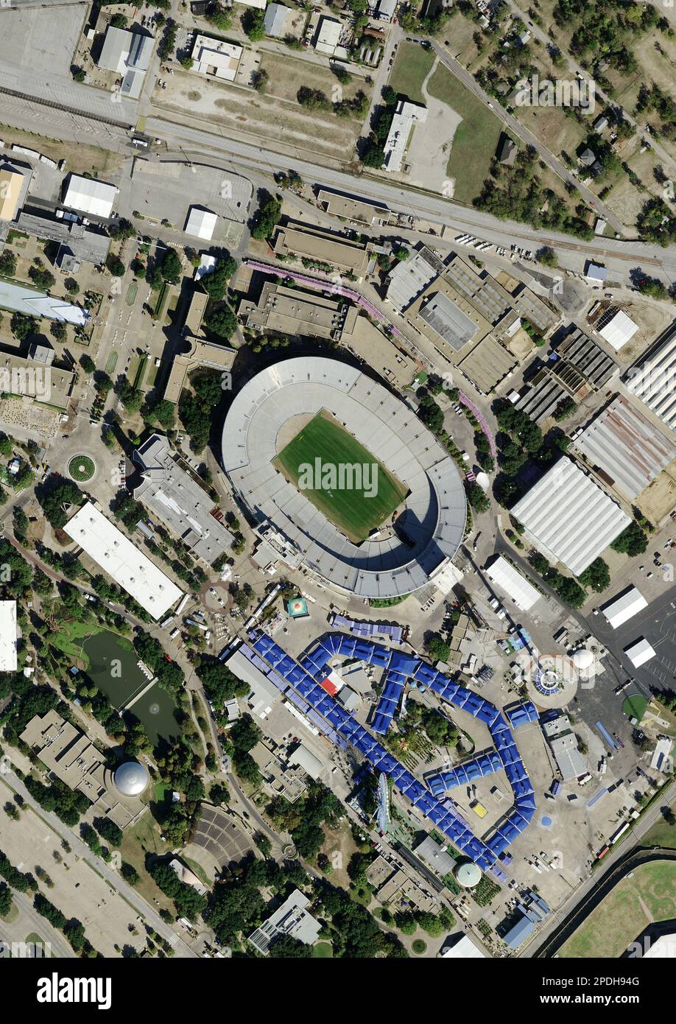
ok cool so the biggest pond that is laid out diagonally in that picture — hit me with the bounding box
[72,629,186,746]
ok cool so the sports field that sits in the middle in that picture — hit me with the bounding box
[275,411,407,542]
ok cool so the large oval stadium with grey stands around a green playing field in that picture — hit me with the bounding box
[216,355,467,598]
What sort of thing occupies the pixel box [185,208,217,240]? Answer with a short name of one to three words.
building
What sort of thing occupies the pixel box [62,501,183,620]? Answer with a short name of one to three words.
building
